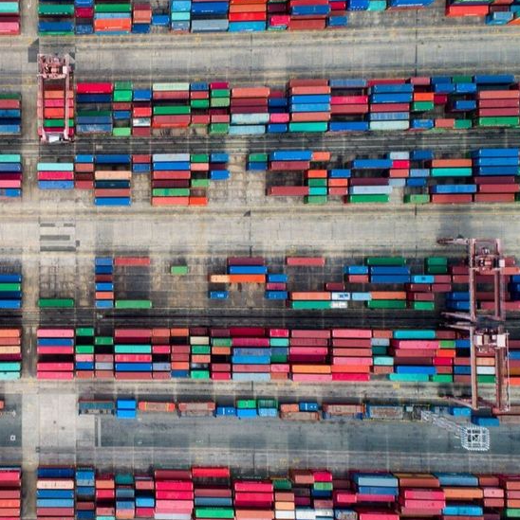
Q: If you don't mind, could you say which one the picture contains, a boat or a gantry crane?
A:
gantry crane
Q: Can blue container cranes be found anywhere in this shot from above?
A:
No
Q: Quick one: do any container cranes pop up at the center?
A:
No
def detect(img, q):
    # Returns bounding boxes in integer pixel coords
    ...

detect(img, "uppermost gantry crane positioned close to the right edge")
[430,237,506,320]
